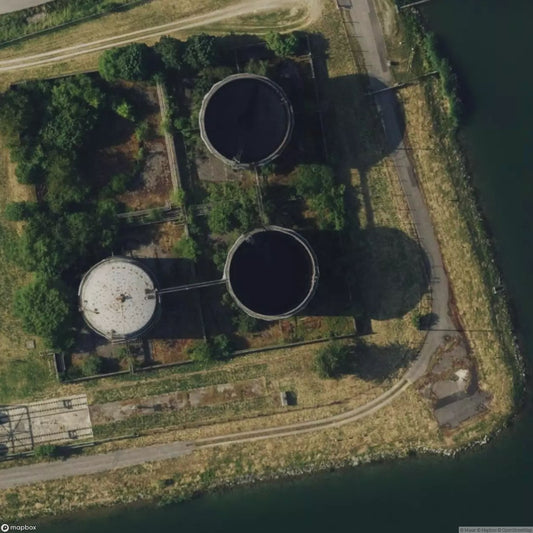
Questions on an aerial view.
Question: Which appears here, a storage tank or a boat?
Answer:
storage tank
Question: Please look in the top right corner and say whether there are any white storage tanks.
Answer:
No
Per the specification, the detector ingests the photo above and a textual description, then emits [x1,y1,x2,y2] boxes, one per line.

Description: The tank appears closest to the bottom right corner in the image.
[224,225,319,321]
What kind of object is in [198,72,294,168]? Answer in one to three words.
storage tank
